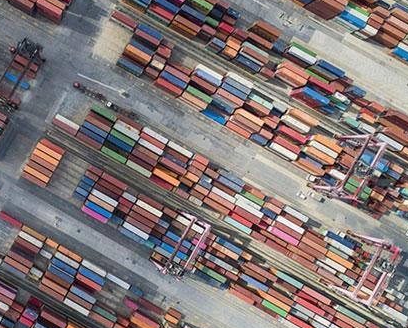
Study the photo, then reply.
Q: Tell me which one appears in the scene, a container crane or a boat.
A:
container crane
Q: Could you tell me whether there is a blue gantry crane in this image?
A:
No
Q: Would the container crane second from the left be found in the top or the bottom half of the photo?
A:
bottom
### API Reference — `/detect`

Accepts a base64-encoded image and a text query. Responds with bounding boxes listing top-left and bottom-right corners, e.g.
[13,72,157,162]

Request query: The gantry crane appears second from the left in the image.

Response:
[148,208,215,285]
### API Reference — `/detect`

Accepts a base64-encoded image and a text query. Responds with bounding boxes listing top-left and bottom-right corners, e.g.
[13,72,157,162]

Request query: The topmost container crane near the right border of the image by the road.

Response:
[309,134,394,202]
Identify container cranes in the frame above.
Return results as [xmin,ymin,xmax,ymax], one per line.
[148,208,215,285]
[318,228,404,307]
[309,134,394,202]
[0,40,46,112]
